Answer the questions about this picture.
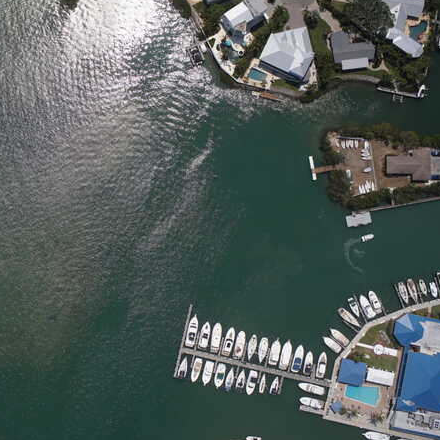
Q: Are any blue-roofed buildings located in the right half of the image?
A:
Yes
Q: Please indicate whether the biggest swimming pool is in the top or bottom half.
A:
bottom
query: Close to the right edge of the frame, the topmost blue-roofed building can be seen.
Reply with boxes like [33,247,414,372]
[390,313,423,346]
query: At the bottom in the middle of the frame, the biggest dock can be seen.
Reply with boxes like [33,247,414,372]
[173,304,331,395]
